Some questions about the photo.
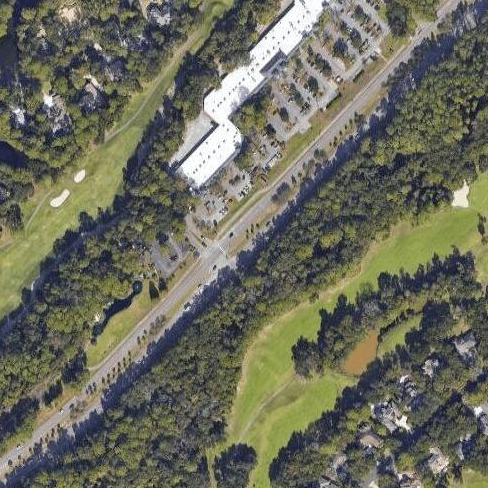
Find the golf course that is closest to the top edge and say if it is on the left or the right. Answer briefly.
left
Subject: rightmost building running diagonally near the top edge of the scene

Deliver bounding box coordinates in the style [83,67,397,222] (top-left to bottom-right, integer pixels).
[180,0,333,190]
